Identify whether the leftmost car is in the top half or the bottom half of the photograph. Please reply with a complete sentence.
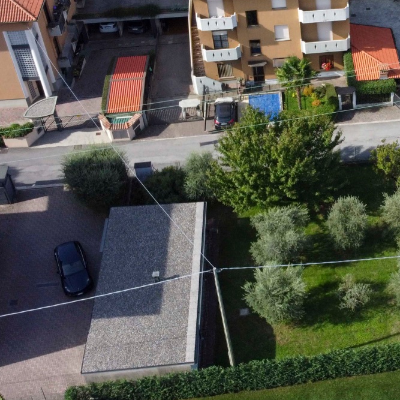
The leftmost car is in the bottom half of the image.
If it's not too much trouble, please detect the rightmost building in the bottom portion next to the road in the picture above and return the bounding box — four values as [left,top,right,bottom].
[80,197,211,394]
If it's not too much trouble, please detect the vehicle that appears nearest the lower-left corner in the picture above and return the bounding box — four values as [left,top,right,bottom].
[52,238,94,298]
